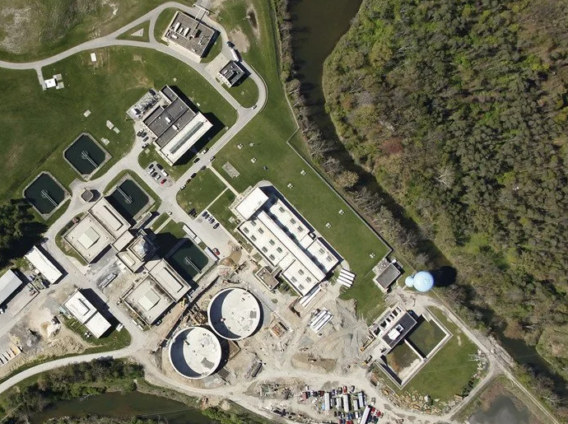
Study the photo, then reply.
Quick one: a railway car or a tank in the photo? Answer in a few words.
tank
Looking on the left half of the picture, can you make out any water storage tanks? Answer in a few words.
Yes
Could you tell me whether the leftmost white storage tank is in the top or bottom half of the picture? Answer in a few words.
bottom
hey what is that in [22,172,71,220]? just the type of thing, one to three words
water tank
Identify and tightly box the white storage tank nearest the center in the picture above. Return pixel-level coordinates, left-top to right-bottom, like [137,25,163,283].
[207,286,263,340]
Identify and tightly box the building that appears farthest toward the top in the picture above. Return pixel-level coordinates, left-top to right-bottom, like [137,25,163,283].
[161,10,215,64]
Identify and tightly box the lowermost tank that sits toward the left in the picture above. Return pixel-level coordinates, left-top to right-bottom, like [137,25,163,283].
[168,326,223,379]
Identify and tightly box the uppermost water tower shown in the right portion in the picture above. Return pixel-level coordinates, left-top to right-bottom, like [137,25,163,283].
[404,272,434,292]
